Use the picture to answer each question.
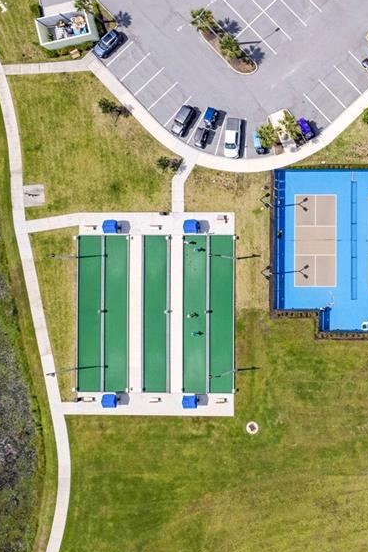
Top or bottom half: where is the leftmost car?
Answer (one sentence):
Seen from above, the leftmost car lies in the top half of the view.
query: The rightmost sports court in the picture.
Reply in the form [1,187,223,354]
[290,195,339,287]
